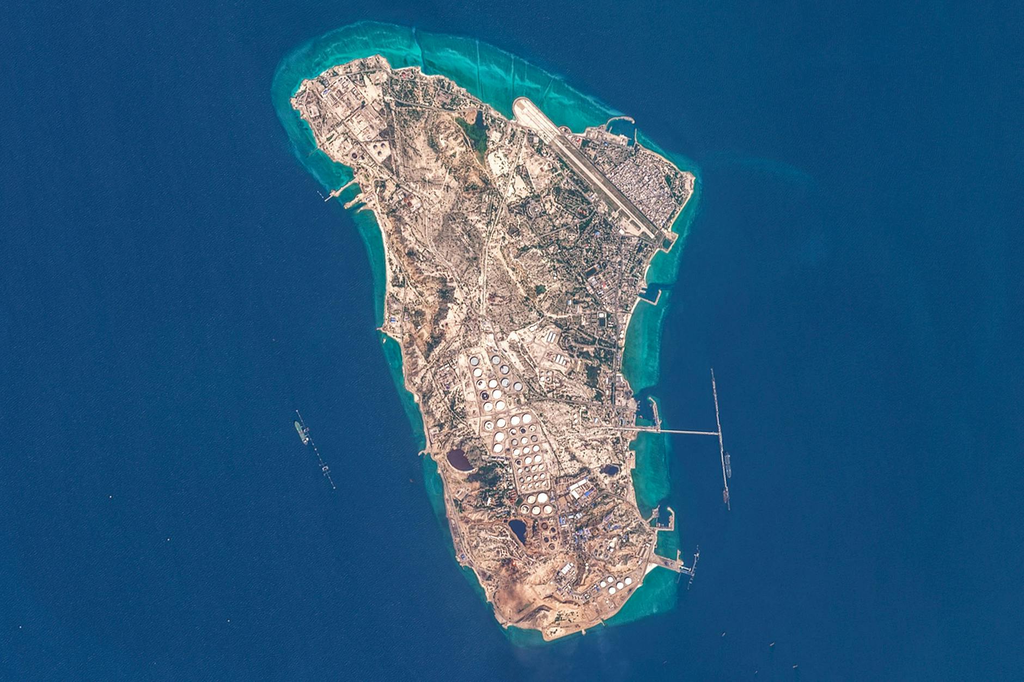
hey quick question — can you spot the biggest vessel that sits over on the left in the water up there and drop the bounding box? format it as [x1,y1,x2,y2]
[295,422,307,445]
